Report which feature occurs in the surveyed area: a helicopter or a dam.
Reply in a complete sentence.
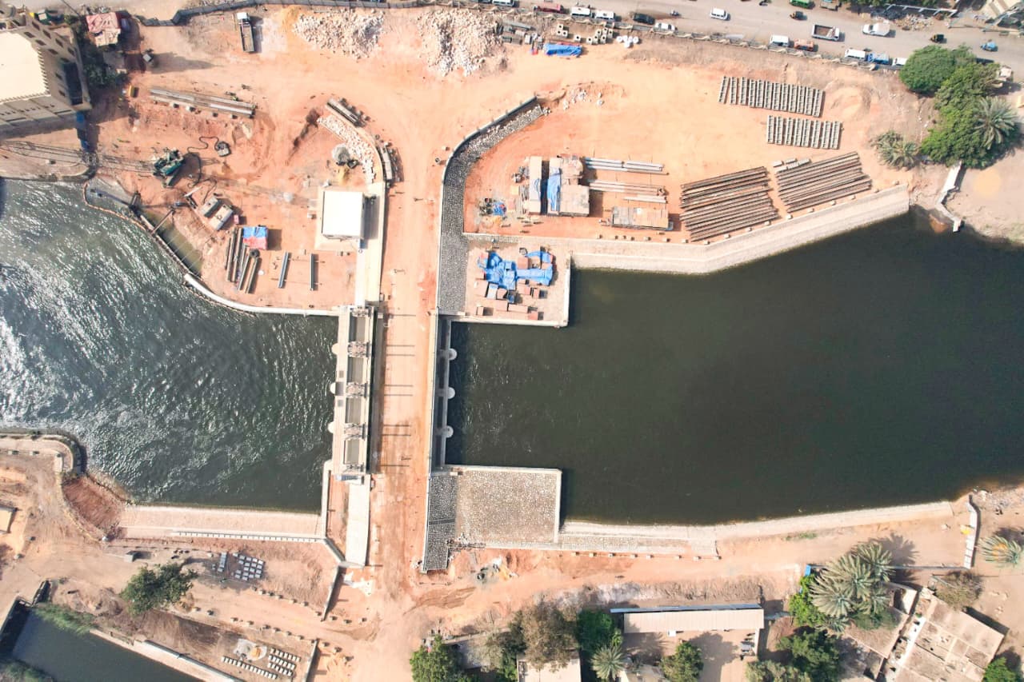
Of the two, only a dam appears.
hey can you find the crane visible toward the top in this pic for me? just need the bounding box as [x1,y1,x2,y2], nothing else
[0,137,187,181]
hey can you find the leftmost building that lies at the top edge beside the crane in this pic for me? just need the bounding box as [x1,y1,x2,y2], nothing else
[0,4,91,128]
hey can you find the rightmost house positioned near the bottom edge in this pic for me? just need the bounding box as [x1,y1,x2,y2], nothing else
[875,592,1006,682]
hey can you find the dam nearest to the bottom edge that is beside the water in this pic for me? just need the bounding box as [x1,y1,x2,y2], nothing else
[327,306,458,483]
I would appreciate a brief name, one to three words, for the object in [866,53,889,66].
vehicle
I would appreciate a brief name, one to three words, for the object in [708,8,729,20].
vehicle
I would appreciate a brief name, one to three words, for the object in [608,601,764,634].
shed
